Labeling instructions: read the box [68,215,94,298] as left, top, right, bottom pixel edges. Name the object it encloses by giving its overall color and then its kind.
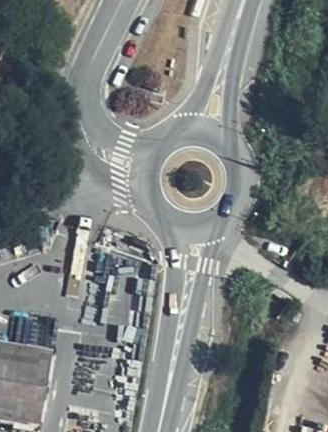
white truck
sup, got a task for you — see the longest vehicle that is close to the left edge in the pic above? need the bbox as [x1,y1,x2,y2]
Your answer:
[10,264,42,288]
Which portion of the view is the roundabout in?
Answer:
center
